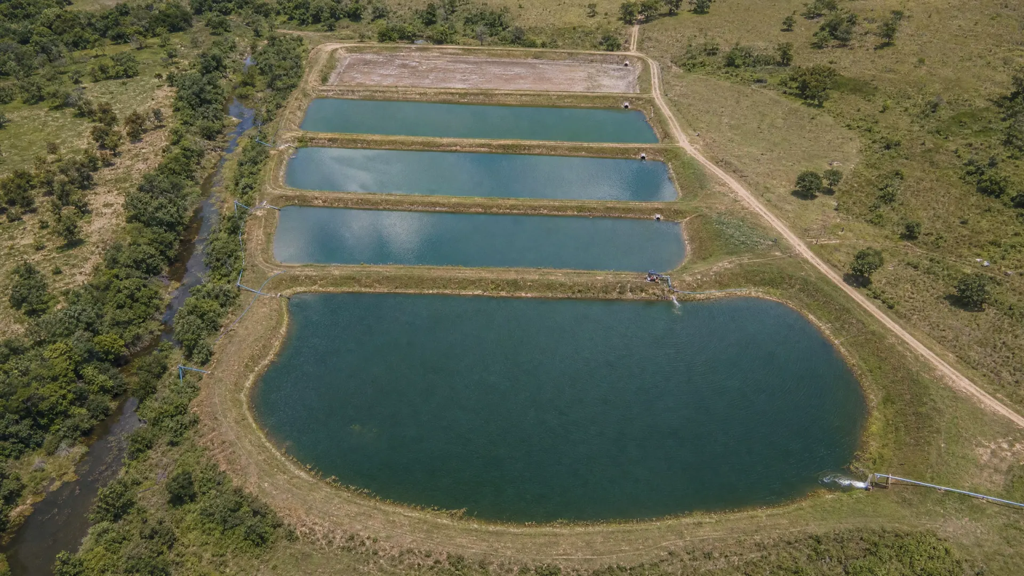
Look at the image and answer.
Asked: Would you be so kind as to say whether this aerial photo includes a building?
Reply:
No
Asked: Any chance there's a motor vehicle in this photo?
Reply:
No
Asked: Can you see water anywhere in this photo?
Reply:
Yes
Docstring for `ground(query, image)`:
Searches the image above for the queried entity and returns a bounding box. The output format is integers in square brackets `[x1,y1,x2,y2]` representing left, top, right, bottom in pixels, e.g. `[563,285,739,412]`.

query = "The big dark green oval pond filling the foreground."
[254,293,867,524]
